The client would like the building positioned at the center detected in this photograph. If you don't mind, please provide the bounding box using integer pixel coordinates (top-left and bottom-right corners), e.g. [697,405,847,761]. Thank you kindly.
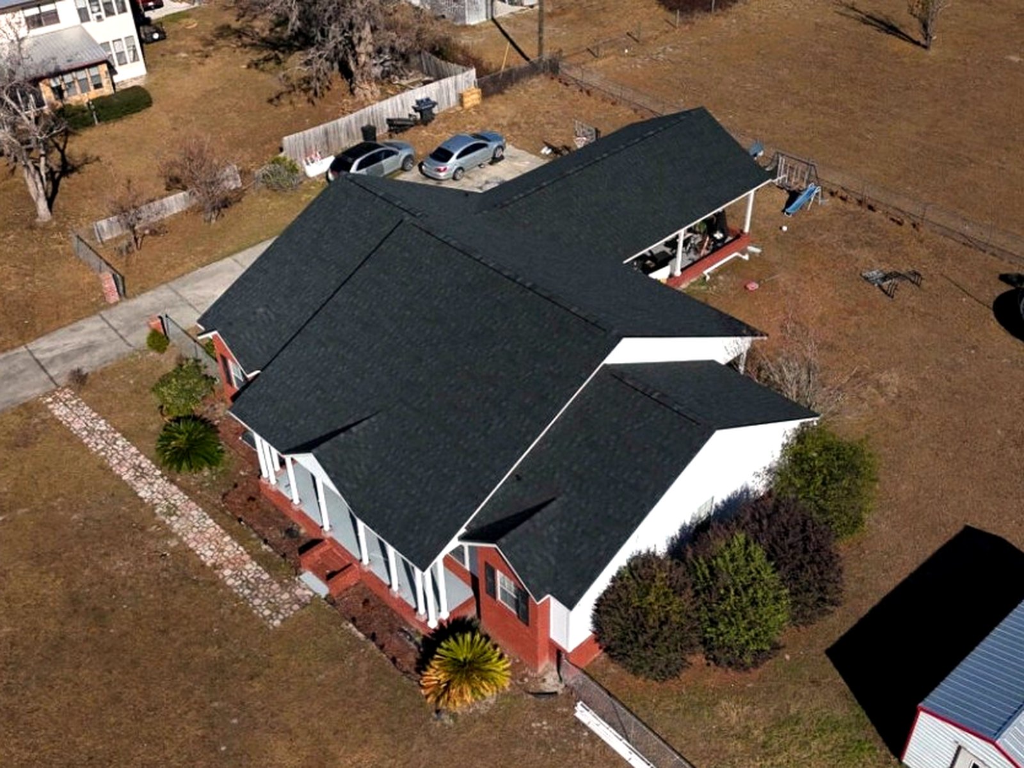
[195,107,821,679]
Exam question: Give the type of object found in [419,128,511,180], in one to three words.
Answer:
car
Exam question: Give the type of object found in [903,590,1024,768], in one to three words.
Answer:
shed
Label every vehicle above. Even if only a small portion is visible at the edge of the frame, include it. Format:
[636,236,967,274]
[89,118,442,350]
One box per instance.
[319,136,418,185]
[130,0,167,9]
[419,128,511,180]
[133,3,174,41]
